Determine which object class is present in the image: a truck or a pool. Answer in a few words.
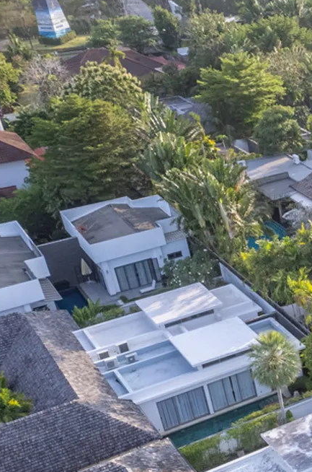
pool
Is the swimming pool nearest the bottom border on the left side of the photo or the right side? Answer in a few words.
right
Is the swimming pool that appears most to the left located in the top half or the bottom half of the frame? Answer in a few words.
bottom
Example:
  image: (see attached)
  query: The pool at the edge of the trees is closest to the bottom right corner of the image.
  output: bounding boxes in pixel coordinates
[163,390,302,451]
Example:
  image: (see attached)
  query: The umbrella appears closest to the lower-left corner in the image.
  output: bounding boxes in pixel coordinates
[79,255,92,282]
